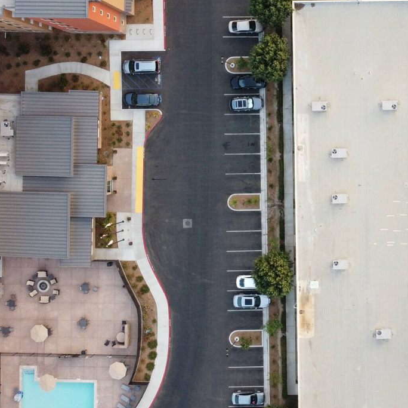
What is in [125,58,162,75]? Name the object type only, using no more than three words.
car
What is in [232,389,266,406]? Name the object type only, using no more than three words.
car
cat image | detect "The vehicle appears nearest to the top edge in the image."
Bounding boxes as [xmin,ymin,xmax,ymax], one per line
[228,19,263,35]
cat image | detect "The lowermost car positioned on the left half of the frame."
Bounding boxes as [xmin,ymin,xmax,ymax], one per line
[126,92,163,108]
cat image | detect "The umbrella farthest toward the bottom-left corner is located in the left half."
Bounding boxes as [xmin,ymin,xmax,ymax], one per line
[38,373,56,392]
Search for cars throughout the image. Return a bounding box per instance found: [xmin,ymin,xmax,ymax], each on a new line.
[231,96,263,112]
[125,58,162,75]
[126,92,163,108]
[233,293,272,309]
[228,19,263,35]
[231,73,266,90]
[232,389,266,406]
[235,274,266,290]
